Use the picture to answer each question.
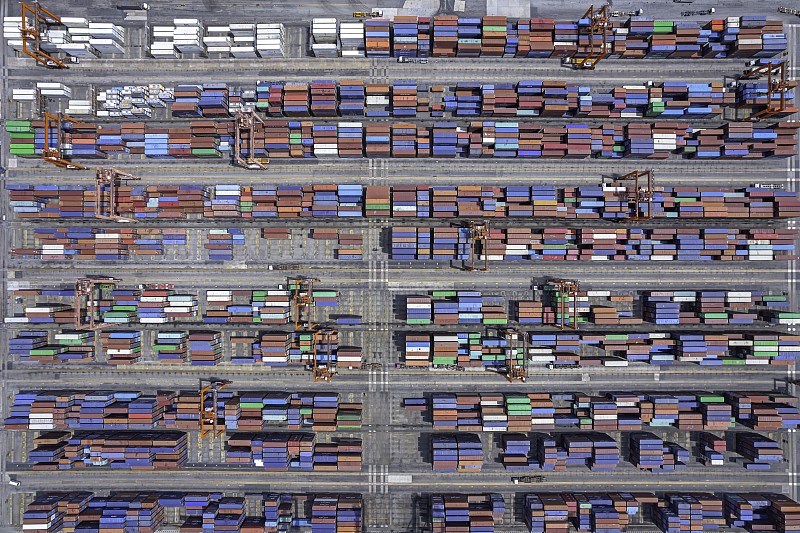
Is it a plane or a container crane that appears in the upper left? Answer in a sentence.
You can see a container crane in the upper left.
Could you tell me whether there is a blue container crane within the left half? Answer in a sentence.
No, the scene shows no blue container crane within the left half.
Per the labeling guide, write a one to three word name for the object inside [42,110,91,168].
container crane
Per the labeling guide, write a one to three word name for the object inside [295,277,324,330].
container crane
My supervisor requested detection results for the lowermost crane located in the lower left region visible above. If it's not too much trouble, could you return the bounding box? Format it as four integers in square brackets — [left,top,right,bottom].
[199,380,236,439]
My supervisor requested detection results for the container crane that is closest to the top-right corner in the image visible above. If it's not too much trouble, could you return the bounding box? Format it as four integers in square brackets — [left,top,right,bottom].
[736,61,786,122]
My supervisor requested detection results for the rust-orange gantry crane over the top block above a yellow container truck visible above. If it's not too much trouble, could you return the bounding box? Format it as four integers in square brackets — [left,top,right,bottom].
[572,5,608,70]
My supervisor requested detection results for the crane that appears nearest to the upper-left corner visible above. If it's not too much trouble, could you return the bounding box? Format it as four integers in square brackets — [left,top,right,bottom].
[20,1,71,66]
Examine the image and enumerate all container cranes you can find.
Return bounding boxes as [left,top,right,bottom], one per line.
[572,5,608,70]
[199,380,236,439]
[312,325,341,382]
[95,168,140,221]
[20,1,71,66]
[462,221,490,271]
[235,110,269,168]
[613,170,652,224]
[75,277,121,329]
[545,278,578,331]
[42,110,91,168]
[498,327,527,383]
[295,277,324,330]
[736,61,786,122]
